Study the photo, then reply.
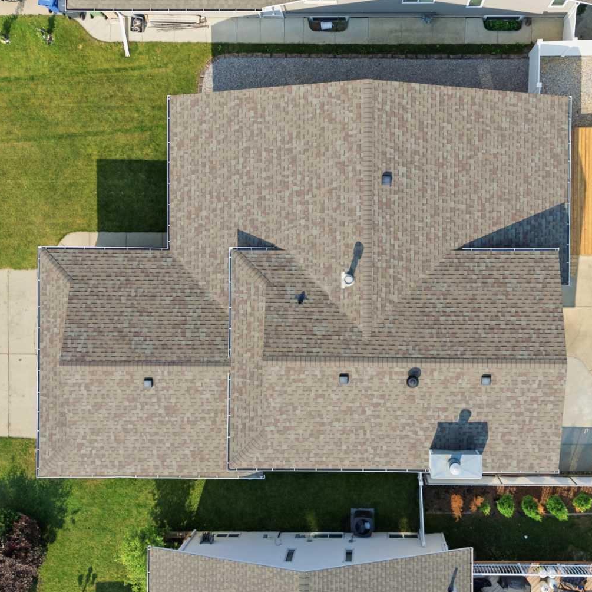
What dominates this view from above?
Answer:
buildings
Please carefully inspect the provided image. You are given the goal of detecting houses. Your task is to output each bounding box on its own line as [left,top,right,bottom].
[148,529,472,592]
[38,76,570,479]
[65,0,592,32]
